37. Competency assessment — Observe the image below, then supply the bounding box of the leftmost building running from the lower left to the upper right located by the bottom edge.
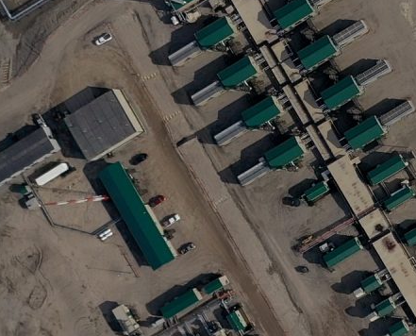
[158,286,206,324]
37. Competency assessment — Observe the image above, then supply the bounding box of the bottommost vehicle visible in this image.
[178,242,198,256]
